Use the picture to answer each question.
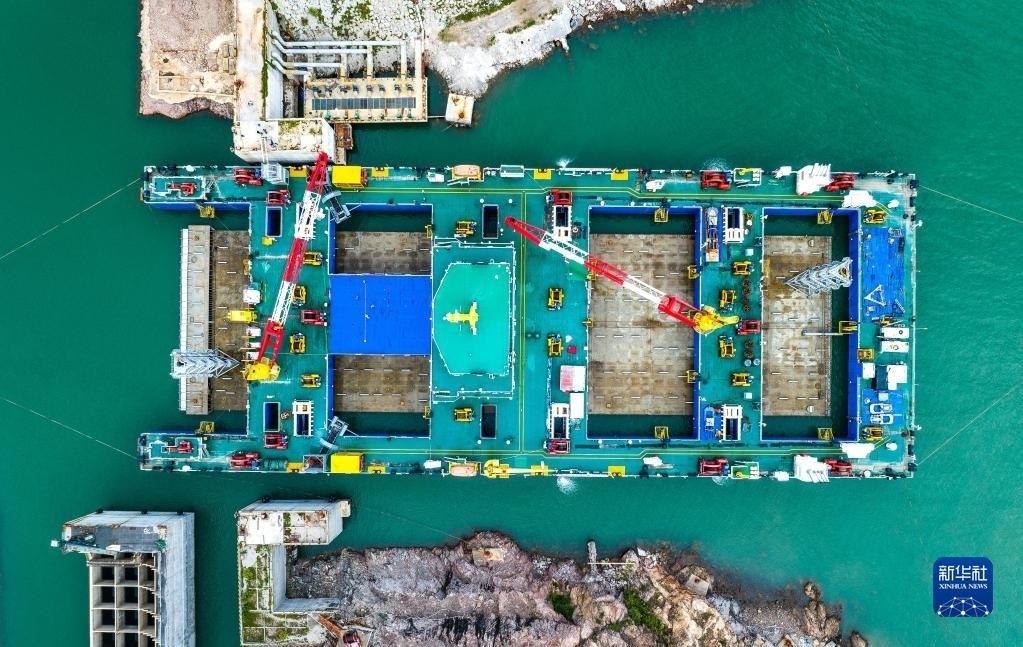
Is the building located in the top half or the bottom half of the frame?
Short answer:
top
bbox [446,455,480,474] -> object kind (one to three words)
boat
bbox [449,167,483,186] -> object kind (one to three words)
boat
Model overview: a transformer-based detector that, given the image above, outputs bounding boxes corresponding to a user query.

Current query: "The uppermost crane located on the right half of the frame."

[505,216,739,337]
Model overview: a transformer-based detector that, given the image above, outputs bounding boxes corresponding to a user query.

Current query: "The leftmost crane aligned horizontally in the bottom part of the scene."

[483,455,555,478]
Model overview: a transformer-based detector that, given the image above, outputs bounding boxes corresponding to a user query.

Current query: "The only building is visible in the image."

[304,76,430,128]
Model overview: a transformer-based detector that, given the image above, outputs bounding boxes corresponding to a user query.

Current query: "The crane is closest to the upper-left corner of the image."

[241,151,331,386]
